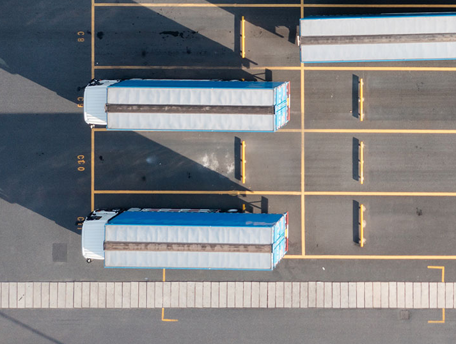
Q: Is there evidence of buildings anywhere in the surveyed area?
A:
No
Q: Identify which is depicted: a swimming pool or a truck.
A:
truck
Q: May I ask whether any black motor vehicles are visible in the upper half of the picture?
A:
No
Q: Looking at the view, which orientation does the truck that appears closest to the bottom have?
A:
from side to side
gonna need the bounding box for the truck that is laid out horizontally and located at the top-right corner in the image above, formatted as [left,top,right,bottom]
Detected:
[300,13,456,62]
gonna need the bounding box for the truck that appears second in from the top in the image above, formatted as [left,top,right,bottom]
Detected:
[76,78,292,132]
